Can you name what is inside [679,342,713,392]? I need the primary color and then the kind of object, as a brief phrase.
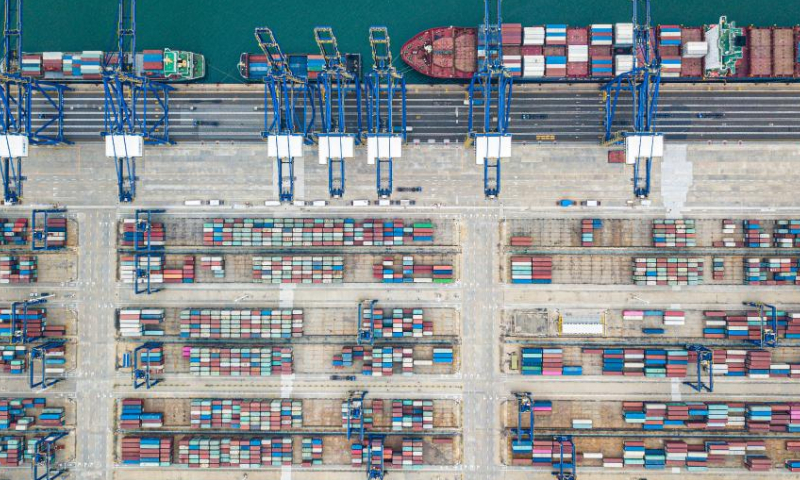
blue crane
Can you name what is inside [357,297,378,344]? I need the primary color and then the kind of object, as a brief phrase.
blue crane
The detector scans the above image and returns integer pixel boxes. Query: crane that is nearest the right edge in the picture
[739,302,777,348]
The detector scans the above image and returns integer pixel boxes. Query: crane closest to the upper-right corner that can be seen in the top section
[591,0,668,202]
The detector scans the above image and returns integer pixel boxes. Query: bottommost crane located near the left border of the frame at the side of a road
[34,430,70,480]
